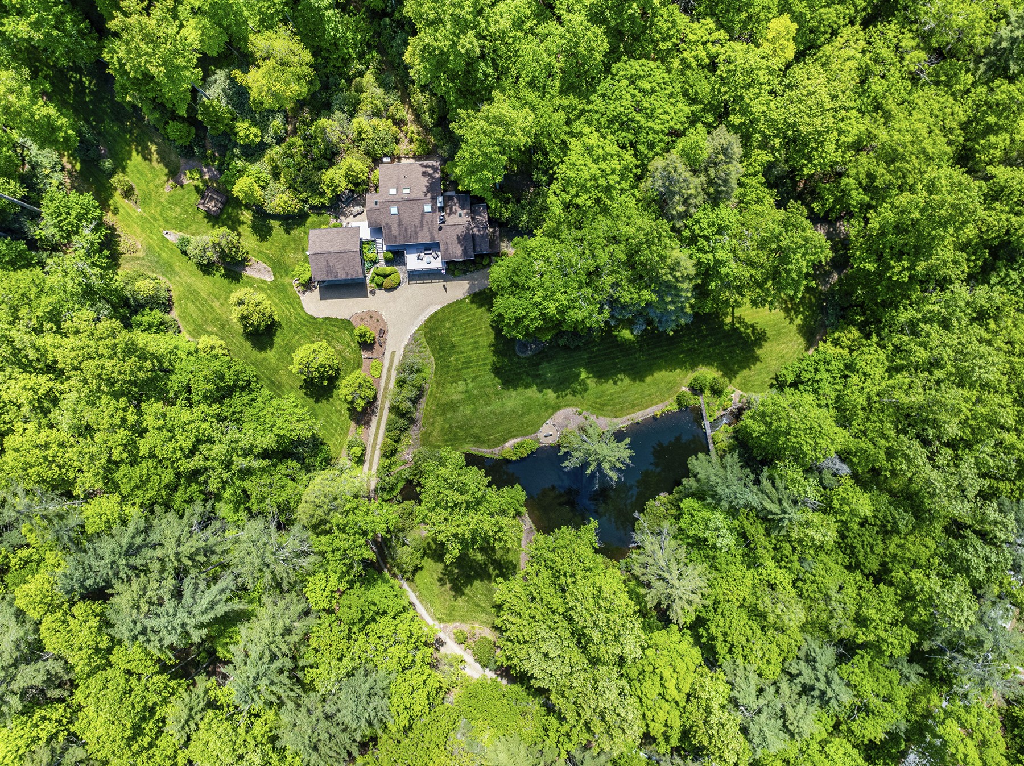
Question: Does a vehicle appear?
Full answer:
No, there's no vehicle here.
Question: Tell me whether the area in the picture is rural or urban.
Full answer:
This place is rural.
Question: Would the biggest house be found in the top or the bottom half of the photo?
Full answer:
It is in the top half that the biggest house appears.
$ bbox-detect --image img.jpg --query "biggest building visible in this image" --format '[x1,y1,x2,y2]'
[343,161,500,271]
